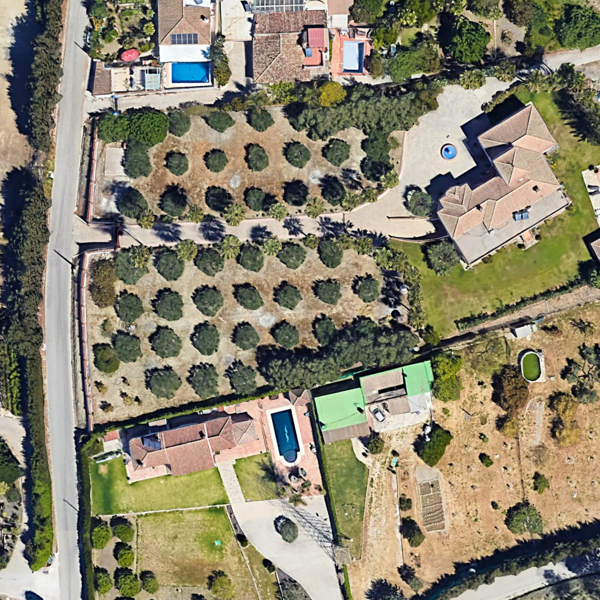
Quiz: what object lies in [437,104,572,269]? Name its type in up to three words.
house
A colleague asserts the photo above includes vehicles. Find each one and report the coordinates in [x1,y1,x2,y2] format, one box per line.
[367,404,386,425]
[85,26,93,49]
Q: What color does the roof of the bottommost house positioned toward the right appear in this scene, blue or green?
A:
green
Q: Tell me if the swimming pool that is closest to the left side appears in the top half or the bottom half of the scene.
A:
top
